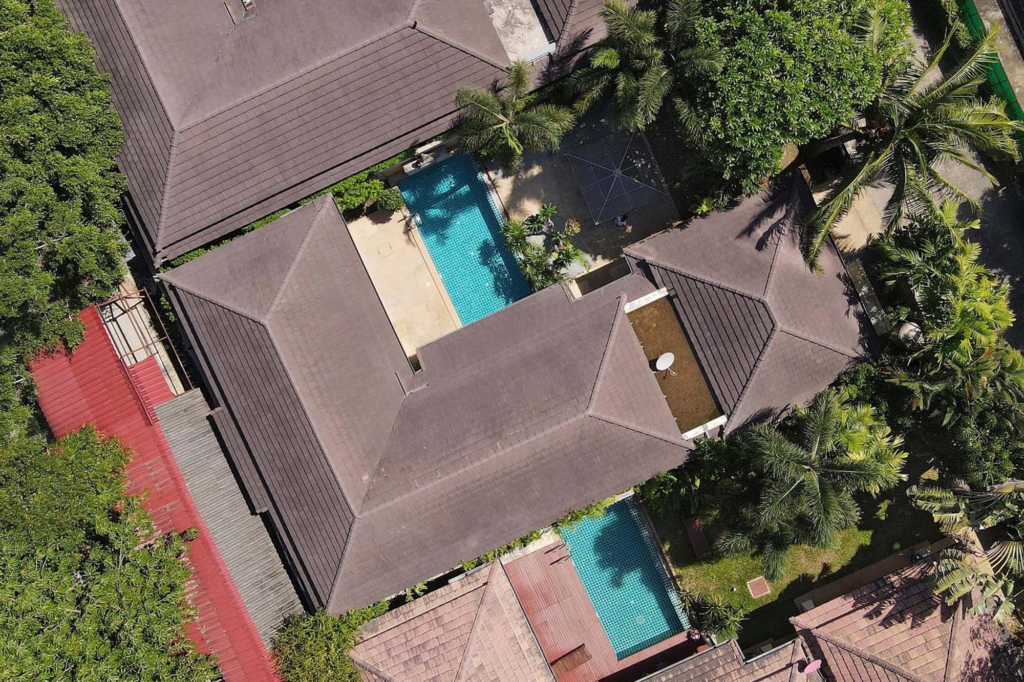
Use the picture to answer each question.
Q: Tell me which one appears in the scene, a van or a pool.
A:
pool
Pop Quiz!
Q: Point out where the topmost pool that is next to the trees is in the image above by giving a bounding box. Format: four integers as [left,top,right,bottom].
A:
[395,150,543,330]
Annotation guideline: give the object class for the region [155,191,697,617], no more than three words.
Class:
house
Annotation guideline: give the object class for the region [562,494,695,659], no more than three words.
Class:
swimming pool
